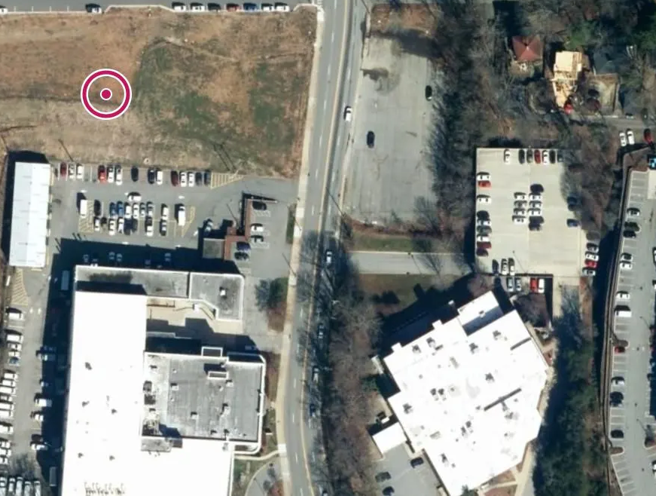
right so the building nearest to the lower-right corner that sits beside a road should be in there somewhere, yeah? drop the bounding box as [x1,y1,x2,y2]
[371,291,548,496]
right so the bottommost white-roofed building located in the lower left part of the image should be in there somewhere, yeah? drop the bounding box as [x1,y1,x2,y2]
[61,265,266,496]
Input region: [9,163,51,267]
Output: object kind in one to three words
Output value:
building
